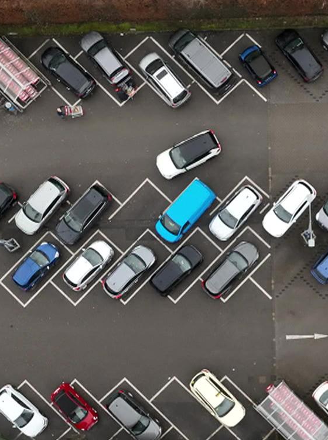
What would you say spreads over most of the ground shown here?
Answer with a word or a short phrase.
paved ground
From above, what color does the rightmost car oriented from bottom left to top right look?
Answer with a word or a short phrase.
white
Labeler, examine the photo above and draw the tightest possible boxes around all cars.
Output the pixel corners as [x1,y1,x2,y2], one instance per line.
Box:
[101,246,156,301]
[213,184,263,239]
[0,383,48,438]
[18,176,71,234]
[276,31,321,84]
[43,45,99,102]
[81,30,133,89]
[312,379,328,415]
[138,52,192,112]
[189,368,246,426]
[264,179,317,236]
[57,181,114,242]
[12,242,61,291]
[105,390,161,440]
[312,249,328,285]
[63,241,114,292]
[50,382,99,430]
[0,182,18,219]
[160,126,220,179]
[150,246,202,297]
[240,45,278,90]
[202,244,258,300]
